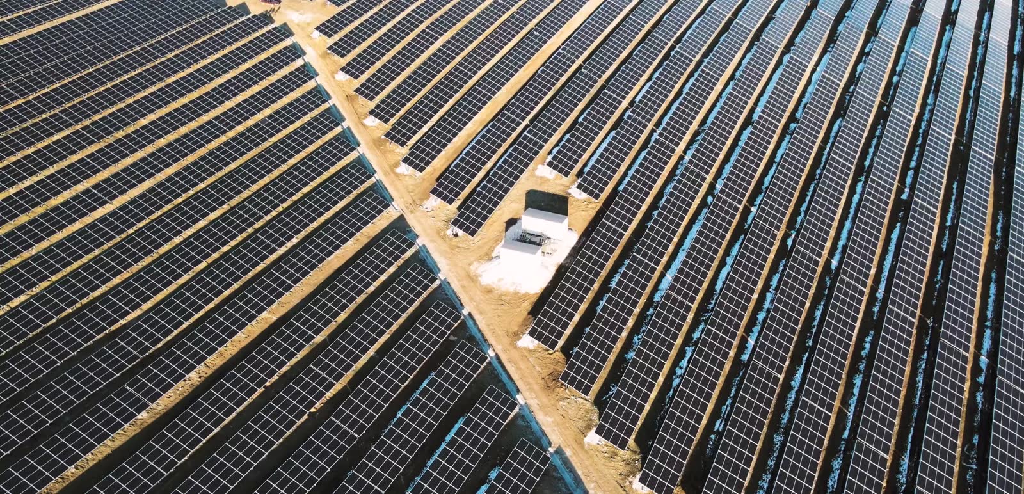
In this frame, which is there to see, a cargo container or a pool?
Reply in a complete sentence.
The image shows a cargo container.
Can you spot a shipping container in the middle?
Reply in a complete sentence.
Yes, the scene does show a shipping container in the middle.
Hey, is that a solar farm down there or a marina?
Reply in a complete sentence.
This image shows a solar farm.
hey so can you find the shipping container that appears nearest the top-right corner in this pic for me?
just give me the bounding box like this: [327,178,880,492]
[523,207,566,237]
